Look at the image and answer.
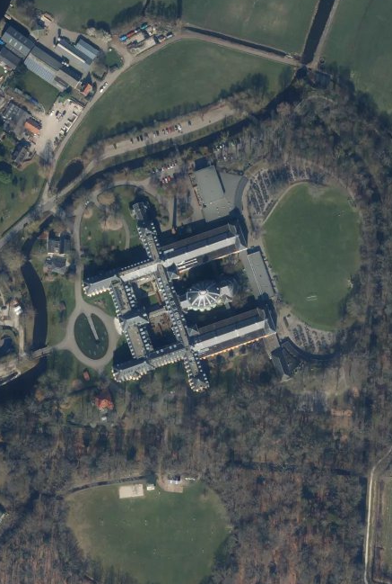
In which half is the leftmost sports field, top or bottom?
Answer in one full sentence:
The bottom half of the photo is where the leftmost sports field is.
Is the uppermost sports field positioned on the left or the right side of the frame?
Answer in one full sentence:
The uppermost sports field appears in the right half of the scene.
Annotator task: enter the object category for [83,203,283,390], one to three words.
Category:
building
